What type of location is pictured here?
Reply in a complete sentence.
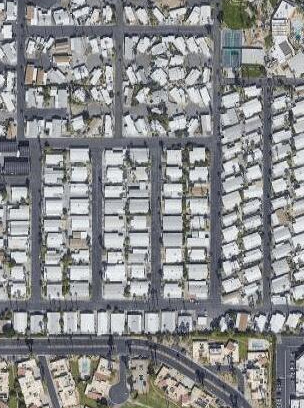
The area seen from above is a residential area.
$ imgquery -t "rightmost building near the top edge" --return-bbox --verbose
[271,1,304,77]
